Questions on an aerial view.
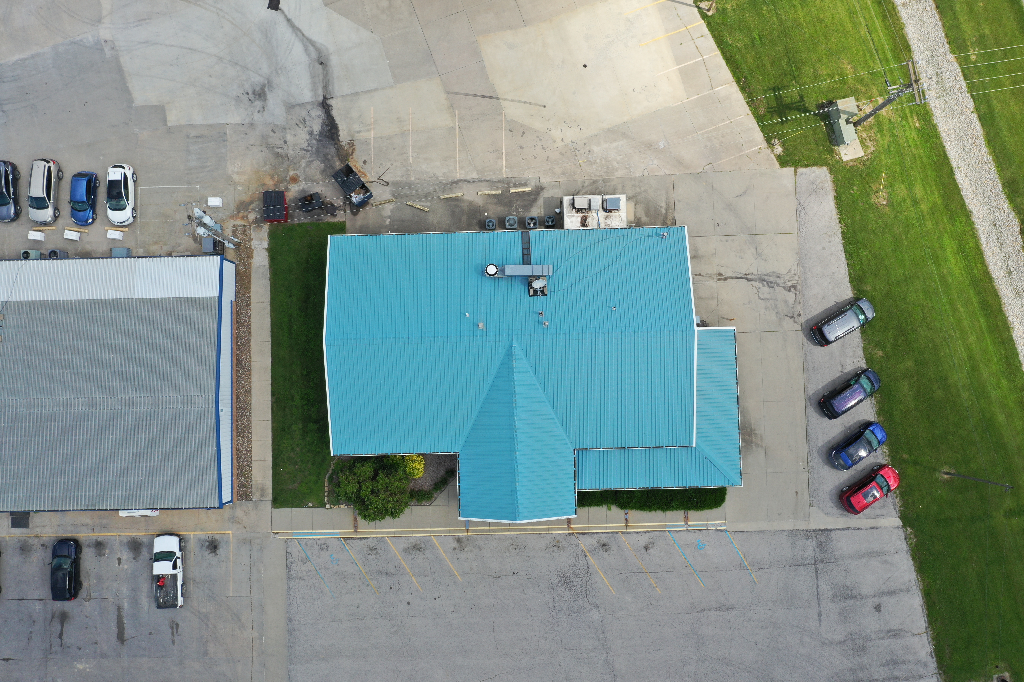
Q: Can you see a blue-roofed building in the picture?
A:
Yes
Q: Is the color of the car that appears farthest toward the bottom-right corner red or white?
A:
red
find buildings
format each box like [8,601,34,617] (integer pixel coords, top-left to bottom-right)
[0,255,238,513]
[323,224,744,524]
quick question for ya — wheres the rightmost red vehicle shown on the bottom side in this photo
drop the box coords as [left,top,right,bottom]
[837,467,899,517]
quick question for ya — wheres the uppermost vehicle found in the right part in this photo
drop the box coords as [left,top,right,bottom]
[810,299,874,348]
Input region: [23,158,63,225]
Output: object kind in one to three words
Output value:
car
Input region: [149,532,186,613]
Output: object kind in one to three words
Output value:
truck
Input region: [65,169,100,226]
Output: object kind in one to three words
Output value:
car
